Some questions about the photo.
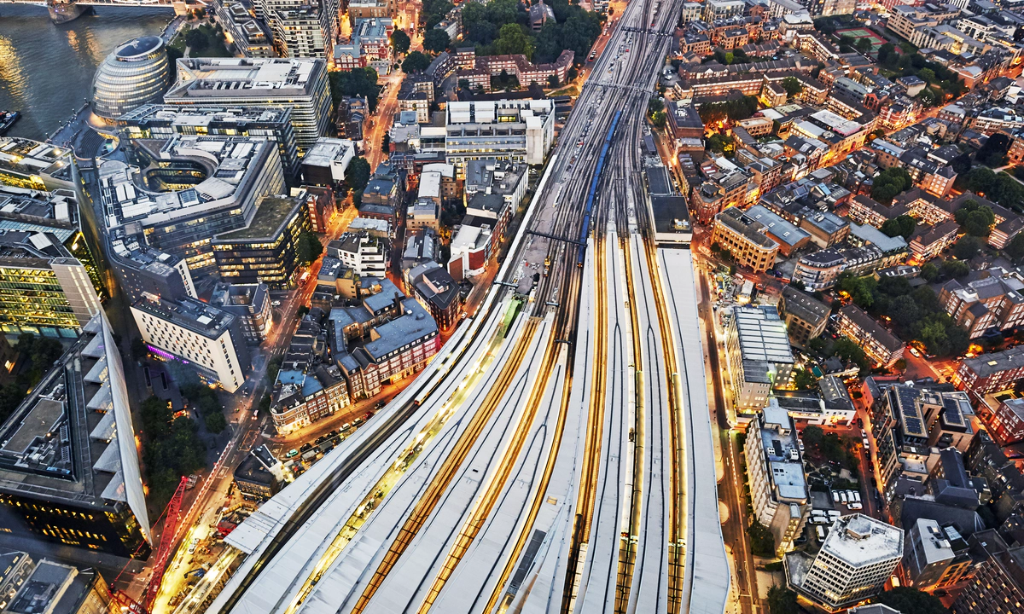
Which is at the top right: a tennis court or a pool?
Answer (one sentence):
Looking at the top right, you will find a tennis court.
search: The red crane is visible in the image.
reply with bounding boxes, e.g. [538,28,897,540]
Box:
[112,477,198,614]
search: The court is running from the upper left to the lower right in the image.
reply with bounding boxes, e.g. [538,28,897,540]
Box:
[834,26,903,66]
